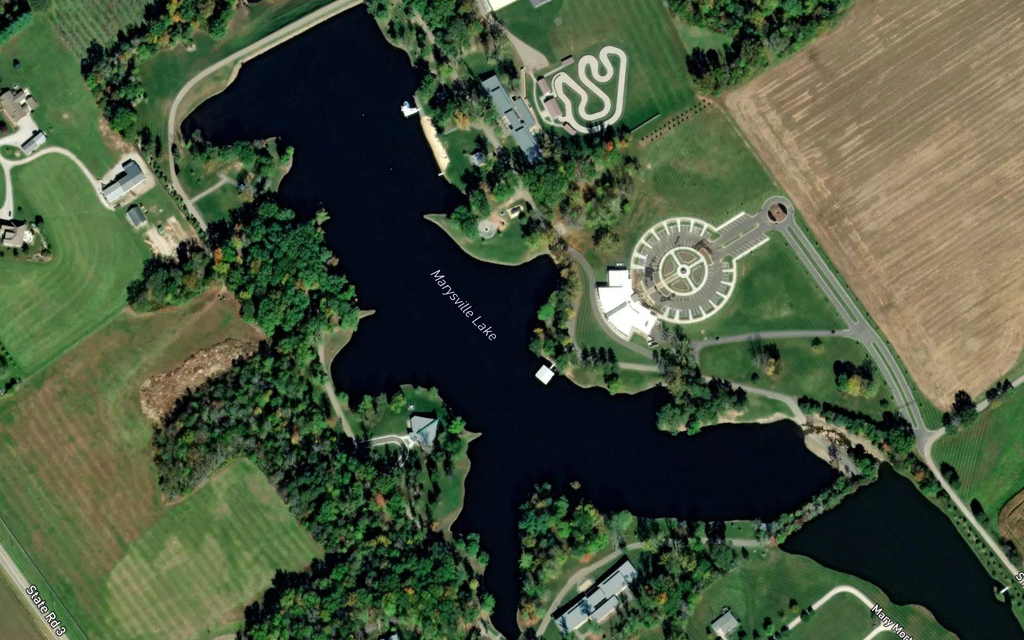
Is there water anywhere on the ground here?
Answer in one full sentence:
Yes, some water is visible.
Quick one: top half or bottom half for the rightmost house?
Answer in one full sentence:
Seen from above, the rightmost house lies in the bottom half of the view.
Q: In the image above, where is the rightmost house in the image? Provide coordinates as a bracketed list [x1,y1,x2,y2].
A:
[713,608,739,635]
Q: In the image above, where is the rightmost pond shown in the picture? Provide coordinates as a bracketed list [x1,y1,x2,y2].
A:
[779,461,1024,640]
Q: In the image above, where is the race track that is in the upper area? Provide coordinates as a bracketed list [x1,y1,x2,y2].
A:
[554,45,628,135]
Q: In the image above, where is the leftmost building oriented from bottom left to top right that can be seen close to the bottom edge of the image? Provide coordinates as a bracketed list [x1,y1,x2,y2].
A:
[556,561,638,632]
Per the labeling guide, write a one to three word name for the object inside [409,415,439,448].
building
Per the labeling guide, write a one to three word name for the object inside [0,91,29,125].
house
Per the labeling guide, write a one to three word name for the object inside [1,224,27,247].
house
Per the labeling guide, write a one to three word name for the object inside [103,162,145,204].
barn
